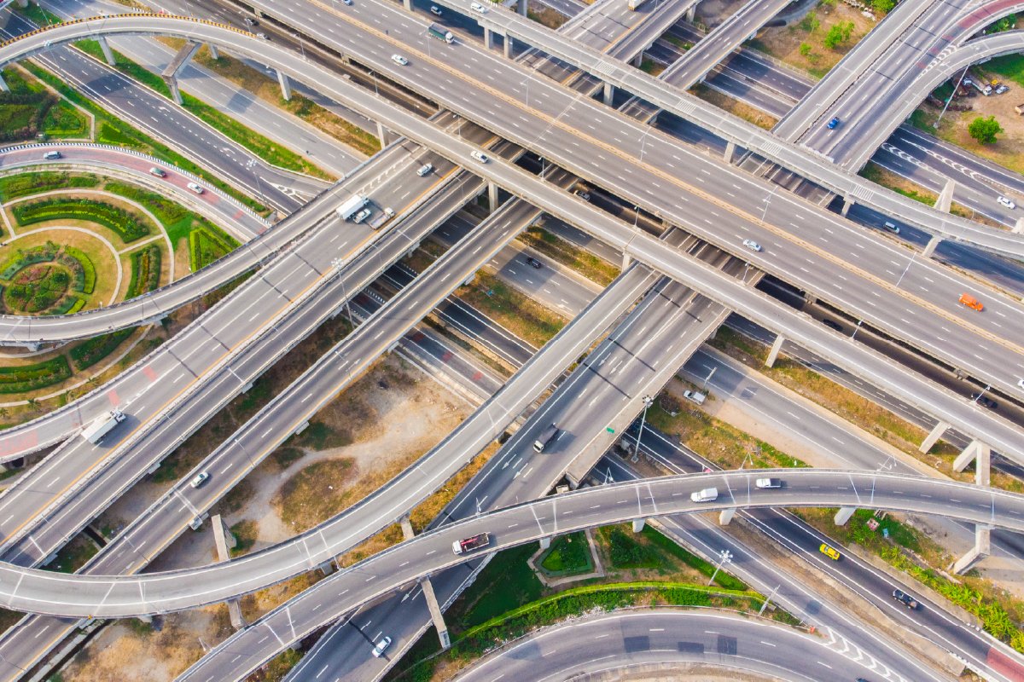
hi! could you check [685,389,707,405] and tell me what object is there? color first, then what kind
white vehicle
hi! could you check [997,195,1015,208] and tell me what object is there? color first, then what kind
white vehicle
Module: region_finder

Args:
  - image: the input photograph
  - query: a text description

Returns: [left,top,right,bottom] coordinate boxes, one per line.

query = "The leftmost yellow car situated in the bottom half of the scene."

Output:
[820,543,841,561]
